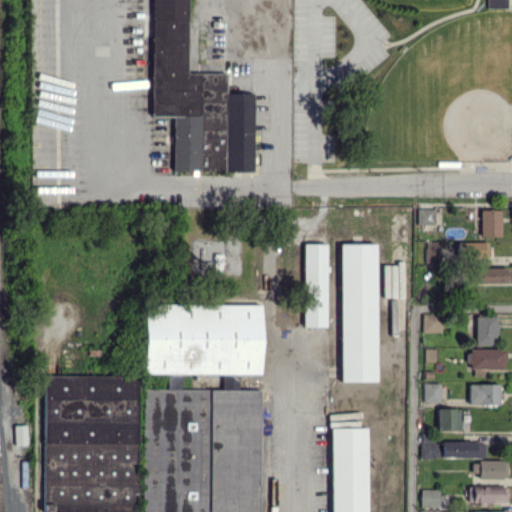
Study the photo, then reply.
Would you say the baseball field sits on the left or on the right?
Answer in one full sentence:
The baseball field is on the right side of the image.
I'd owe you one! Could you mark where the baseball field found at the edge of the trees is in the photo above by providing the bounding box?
[366,12,512,162]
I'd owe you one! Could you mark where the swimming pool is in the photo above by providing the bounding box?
[446,228,468,240]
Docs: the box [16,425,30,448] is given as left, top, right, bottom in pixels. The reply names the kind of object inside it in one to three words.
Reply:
shed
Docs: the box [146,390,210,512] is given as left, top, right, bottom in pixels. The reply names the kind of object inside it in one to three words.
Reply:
building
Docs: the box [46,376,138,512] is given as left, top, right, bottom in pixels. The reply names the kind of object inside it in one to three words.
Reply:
building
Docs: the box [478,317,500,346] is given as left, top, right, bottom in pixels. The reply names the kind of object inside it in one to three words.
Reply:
house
